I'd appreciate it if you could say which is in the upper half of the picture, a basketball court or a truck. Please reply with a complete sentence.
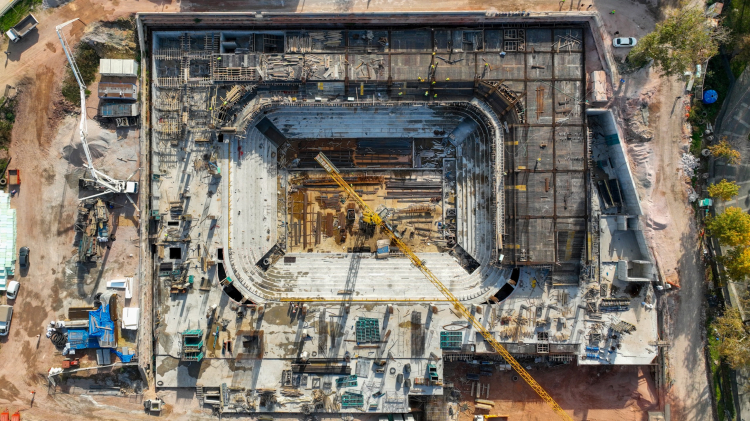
What appears in the upper half of the picture is a truck.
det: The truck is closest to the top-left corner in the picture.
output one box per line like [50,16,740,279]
[1,10,42,45]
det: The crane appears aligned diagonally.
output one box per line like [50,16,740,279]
[315,149,576,421]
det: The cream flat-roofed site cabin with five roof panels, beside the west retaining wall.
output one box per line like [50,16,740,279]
[100,59,144,80]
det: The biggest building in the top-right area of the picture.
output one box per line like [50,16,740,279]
[587,70,607,105]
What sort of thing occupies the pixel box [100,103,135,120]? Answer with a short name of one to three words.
building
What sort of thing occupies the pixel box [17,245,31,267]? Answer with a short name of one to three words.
vehicle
